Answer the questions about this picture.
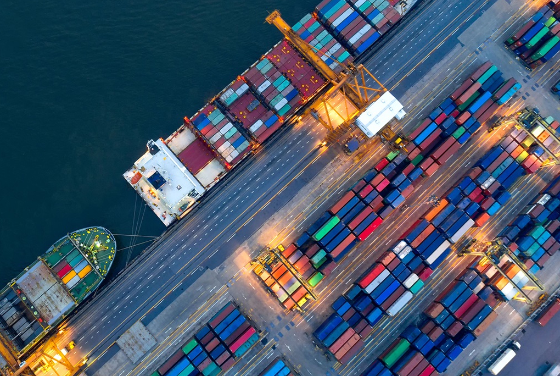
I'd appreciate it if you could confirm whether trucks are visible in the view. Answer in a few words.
Yes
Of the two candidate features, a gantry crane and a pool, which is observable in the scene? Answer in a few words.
gantry crane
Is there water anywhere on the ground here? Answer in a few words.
Yes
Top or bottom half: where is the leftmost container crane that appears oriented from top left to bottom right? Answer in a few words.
bottom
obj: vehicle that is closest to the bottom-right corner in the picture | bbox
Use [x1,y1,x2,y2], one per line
[540,354,560,376]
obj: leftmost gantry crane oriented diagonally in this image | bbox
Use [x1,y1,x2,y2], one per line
[249,240,317,312]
